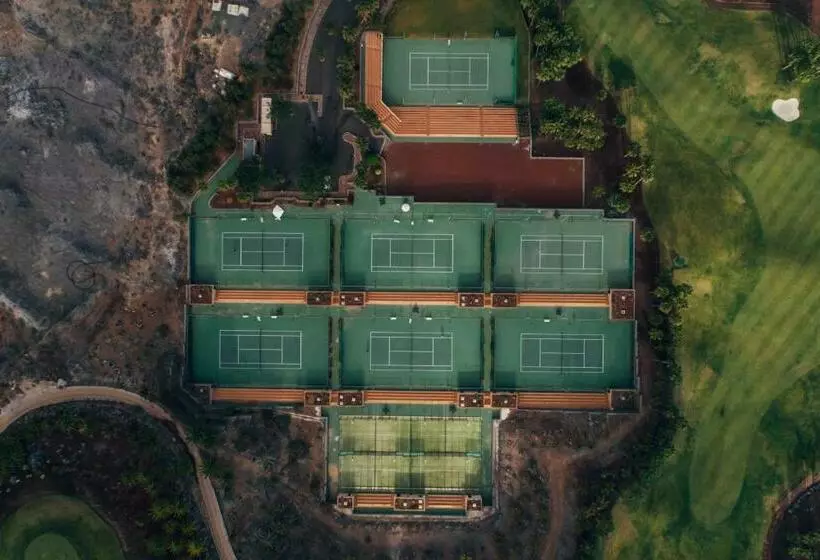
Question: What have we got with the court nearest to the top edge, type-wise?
tennis court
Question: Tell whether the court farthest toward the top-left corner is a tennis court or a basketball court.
tennis court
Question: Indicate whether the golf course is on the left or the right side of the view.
right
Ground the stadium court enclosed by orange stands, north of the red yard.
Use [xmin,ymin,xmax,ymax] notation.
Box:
[383,38,515,107]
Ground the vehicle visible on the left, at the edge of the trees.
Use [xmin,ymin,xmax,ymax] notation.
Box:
[216,65,235,79]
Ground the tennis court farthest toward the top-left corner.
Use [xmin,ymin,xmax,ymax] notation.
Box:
[195,218,330,288]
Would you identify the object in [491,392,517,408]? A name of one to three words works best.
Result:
building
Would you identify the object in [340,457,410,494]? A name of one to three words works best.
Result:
sports court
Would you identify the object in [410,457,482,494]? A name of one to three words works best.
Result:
sports court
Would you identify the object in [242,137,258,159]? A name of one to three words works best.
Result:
shed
